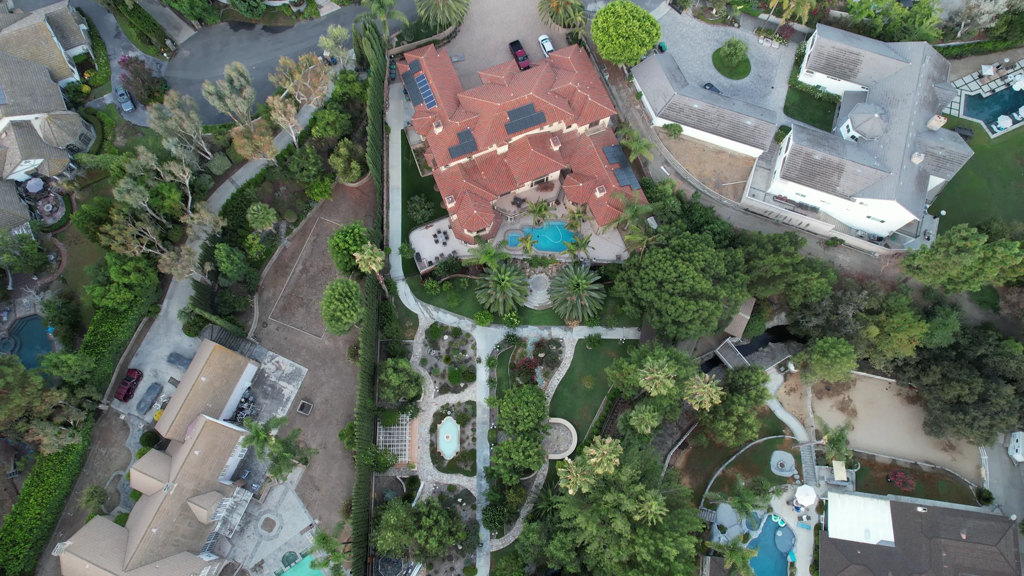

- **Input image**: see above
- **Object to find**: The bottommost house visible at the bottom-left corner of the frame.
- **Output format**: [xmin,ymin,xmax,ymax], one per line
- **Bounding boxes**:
[53,414,247,576]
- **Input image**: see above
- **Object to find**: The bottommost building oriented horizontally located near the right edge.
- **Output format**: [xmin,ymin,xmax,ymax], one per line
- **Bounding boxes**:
[811,487,1022,576]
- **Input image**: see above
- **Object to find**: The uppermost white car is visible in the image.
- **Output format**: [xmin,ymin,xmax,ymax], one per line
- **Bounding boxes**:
[539,31,555,59]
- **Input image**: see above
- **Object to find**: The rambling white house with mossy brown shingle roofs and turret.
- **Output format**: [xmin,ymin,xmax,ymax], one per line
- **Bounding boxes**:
[0,0,97,233]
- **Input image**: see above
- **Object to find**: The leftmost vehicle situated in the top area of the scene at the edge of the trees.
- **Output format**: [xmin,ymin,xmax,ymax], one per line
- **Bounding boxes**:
[111,80,134,112]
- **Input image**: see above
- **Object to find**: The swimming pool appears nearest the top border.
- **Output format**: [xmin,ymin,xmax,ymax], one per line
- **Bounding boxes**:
[966,85,1024,130]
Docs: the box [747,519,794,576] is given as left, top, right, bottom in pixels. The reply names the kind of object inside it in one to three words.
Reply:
swimming pool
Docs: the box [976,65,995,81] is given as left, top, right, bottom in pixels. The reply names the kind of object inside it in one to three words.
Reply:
umbrella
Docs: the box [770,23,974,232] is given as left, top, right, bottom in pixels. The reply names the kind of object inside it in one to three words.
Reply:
house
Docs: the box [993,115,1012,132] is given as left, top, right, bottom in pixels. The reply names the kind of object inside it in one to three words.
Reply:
umbrella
